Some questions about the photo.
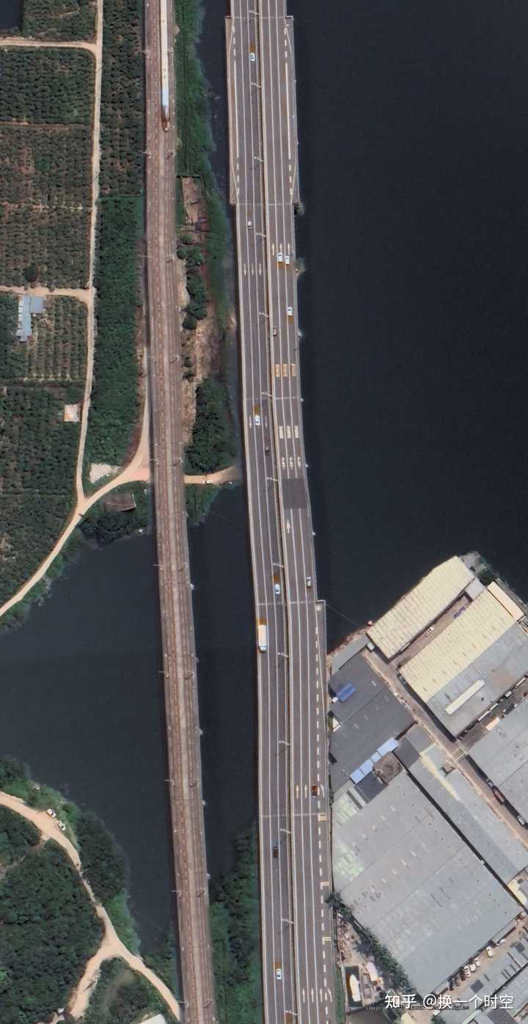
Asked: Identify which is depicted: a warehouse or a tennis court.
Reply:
warehouse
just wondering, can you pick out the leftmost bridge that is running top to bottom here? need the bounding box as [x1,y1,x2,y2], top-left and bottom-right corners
[145,0,216,1024]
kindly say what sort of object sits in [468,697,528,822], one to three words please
building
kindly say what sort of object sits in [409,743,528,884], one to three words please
warehouse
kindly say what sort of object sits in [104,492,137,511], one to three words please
shed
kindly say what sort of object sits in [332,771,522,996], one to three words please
warehouse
